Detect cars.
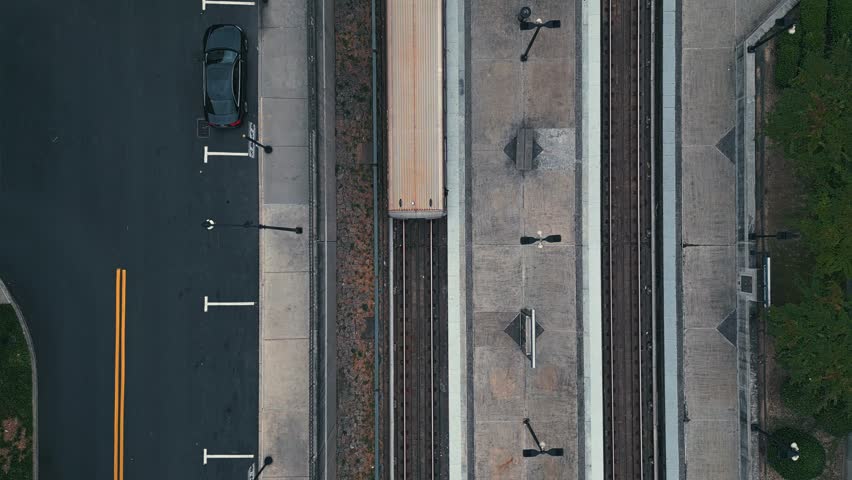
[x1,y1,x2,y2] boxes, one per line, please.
[200,25,249,130]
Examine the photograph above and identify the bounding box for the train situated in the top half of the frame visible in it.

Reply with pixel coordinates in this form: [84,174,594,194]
[384,0,451,228]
